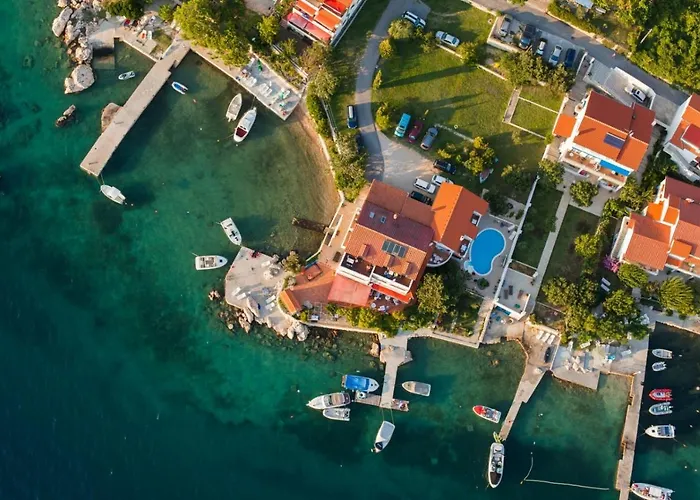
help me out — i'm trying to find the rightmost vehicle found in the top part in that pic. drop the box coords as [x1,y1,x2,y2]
[625,87,647,105]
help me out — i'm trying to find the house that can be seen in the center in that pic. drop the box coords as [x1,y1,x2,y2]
[280,179,488,317]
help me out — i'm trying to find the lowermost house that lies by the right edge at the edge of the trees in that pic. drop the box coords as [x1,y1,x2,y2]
[604,176,700,281]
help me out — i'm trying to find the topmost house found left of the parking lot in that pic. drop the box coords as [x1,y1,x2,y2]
[288,0,367,51]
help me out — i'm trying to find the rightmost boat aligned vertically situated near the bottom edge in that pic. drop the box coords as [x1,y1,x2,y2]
[489,438,504,489]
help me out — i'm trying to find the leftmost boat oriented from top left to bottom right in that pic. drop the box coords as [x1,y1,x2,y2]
[100,184,129,207]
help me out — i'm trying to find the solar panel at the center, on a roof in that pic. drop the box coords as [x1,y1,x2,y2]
[382,241,408,259]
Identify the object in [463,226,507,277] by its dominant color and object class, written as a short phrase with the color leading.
blue swimming pool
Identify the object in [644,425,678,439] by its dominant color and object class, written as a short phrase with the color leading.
white boat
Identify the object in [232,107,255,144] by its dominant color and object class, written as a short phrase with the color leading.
white boat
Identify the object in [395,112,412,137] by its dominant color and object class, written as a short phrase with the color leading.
blue car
